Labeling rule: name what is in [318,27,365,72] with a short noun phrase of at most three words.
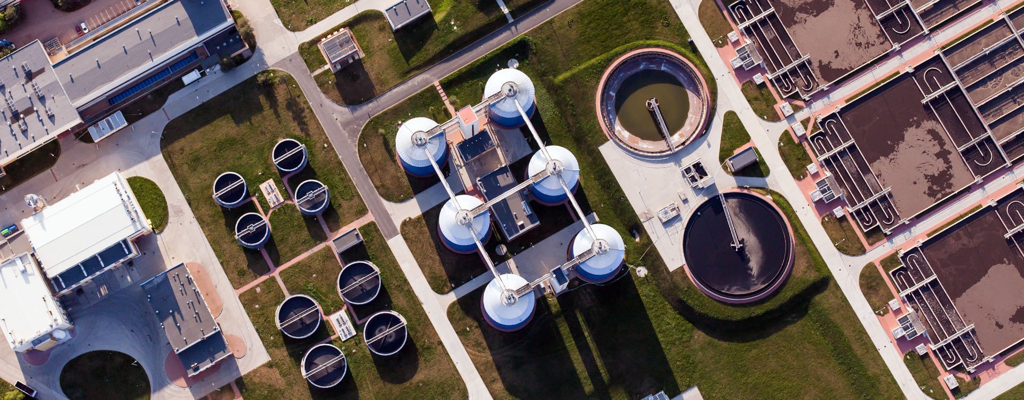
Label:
shed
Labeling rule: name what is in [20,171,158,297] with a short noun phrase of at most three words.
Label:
building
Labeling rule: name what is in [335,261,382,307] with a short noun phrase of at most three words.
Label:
storage tank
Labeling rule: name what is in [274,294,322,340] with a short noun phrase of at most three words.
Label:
storage tank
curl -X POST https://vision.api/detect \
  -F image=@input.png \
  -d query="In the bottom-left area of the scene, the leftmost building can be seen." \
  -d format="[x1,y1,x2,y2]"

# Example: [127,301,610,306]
[0,252,77,356]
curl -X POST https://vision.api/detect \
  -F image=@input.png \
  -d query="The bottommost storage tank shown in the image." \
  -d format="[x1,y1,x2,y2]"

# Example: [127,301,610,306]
[300,343,347,389]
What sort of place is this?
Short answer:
industrial area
